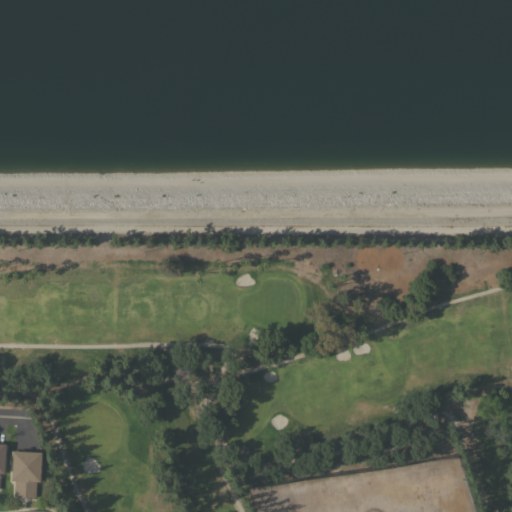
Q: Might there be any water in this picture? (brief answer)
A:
Yes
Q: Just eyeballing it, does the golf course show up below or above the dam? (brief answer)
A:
below it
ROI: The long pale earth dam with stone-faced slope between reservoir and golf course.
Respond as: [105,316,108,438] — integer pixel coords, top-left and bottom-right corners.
[0,168,512,269]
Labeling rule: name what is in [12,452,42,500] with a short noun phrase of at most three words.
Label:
house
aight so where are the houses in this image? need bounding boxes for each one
[12,452,42,500]
[0,444,6,490]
